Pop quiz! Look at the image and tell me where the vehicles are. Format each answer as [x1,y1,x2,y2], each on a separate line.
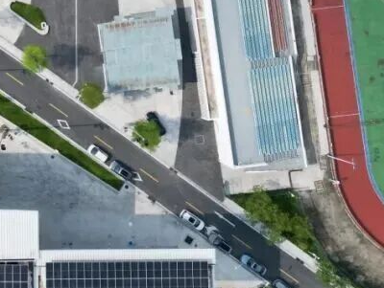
[110,161,138,184]
[85,142,109,163]
[241,255,269,278]
[146,108,170,134]
[208,232,238,258]
[178,208,206,231]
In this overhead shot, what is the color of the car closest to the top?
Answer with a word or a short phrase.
black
